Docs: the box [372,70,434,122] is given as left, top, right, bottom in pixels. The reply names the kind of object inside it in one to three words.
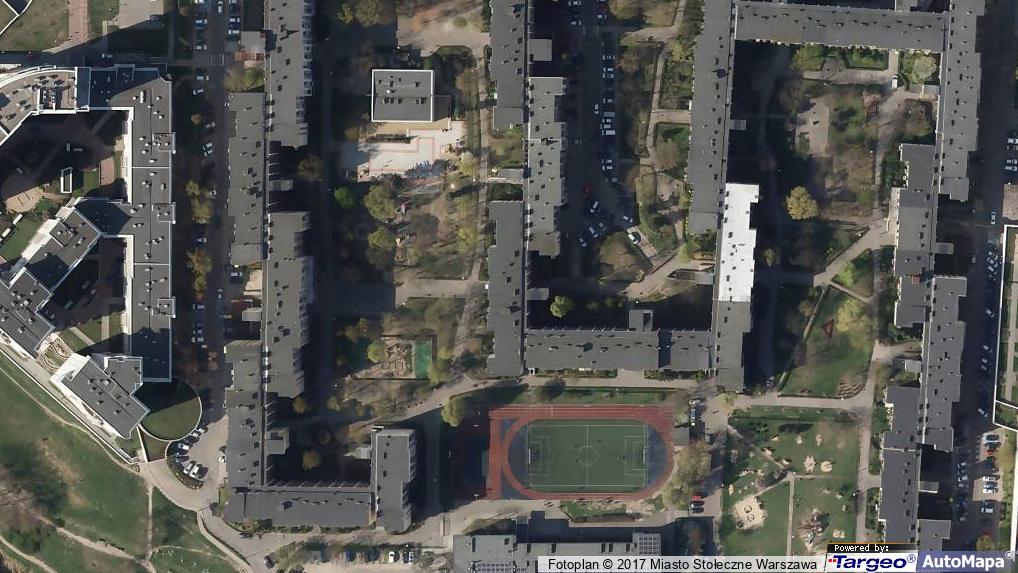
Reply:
building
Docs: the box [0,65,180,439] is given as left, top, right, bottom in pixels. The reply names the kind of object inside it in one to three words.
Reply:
building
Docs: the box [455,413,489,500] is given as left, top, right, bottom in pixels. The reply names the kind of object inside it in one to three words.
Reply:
basketball court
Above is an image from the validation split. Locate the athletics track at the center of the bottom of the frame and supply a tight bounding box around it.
[489,405,673,500]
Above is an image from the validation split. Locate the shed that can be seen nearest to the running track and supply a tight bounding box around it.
[673,427,689,447]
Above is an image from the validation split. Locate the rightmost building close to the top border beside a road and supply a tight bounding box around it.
[941,0,988,202]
